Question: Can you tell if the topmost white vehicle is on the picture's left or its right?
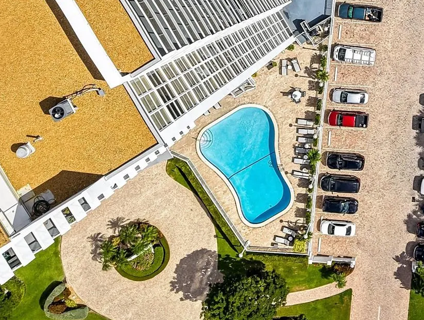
right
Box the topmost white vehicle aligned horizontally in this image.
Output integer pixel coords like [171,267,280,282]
[332,46,377,65]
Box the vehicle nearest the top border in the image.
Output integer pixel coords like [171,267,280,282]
[337,2,384,21]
